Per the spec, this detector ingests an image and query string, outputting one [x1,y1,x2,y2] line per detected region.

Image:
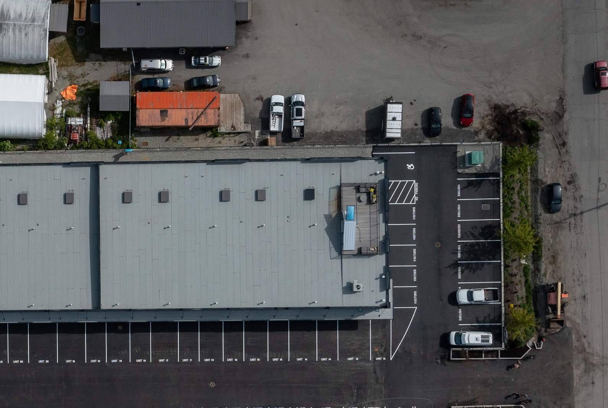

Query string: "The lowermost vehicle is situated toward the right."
[447,329,496,347]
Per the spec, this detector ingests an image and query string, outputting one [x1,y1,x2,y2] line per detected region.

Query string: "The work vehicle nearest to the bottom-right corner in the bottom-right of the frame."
[545,287,573,327]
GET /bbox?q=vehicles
[590,60,608,92]
[189,73,220,91]
[447,329,496,347]
[426,107,443,138]
[457,93,476,128]
[140,58,173,76]
[455,287,499,305]
[191,57,221,70]
[141,74,171,92]
[290,94,307,140]
[68,121,82,142]
[545,287,573,327]
[268,95,286,133]
[546,183,564,214]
